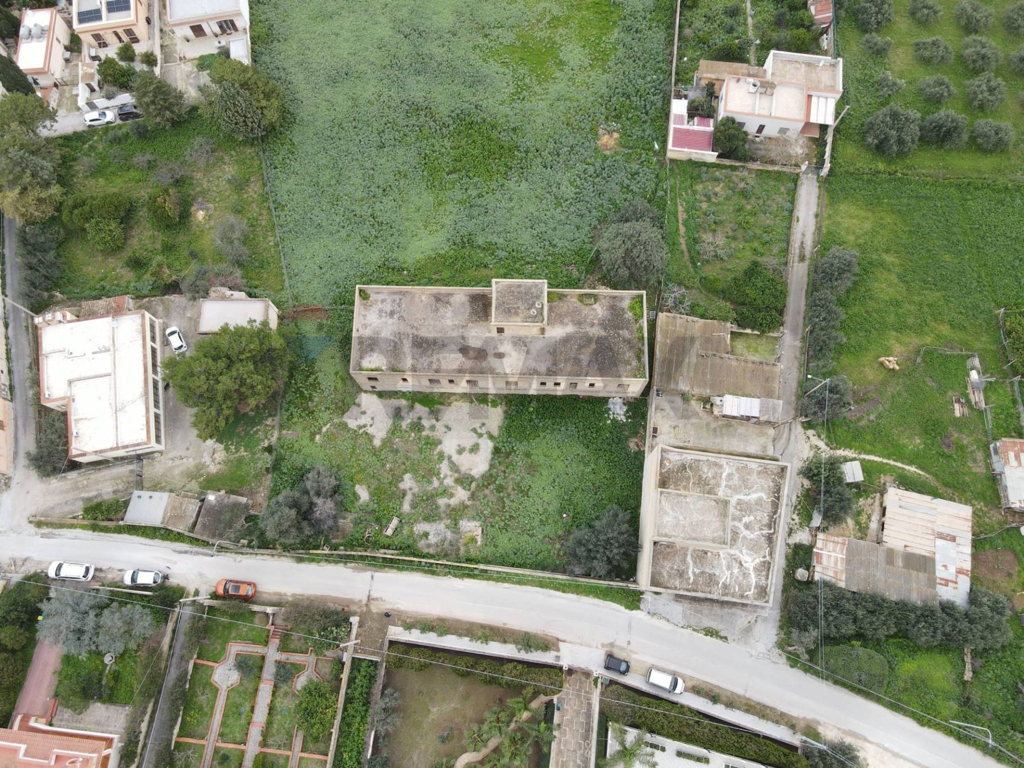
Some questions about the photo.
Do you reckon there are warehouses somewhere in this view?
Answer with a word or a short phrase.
Yes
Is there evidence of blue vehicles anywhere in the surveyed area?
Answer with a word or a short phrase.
No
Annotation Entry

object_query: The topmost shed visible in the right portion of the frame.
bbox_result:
[801,0,832,35]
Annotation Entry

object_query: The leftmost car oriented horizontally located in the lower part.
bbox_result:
[46,559,97,581]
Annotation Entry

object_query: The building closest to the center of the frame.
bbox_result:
[350,279,649,397]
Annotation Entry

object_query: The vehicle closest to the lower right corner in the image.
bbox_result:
[646,667,686,695]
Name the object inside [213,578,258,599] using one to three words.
car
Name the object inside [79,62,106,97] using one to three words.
building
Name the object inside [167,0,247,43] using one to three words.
house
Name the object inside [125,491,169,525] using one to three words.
shed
